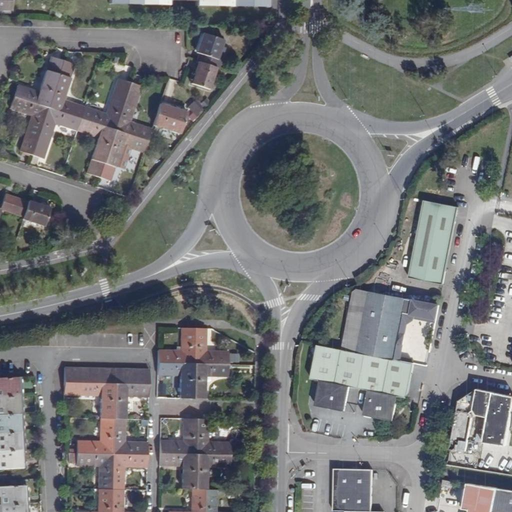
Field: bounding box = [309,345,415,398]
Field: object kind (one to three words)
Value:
building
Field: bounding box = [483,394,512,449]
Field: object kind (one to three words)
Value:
building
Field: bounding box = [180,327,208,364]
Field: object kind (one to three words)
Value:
house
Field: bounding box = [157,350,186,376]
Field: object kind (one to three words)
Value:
house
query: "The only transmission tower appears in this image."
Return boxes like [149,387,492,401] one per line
[450,5,494,20]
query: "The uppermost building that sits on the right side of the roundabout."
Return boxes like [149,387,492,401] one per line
[408,200,460,286]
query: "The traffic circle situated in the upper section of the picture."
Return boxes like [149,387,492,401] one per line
[201,93,398,291]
